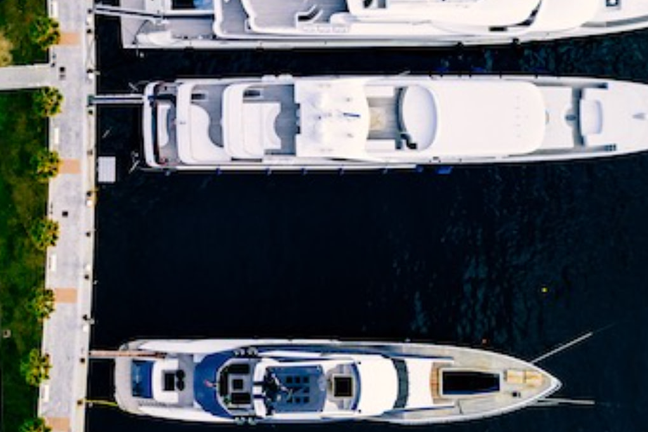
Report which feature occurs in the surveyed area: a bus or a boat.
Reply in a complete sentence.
I can see a boat in this picture.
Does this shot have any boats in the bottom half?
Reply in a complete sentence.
Yes, a boat is visible in the bottom half.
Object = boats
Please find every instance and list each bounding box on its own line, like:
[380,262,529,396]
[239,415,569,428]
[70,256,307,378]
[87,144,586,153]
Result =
[117,336,560,425]
[120,0,648,52]
[144,67,648,174]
